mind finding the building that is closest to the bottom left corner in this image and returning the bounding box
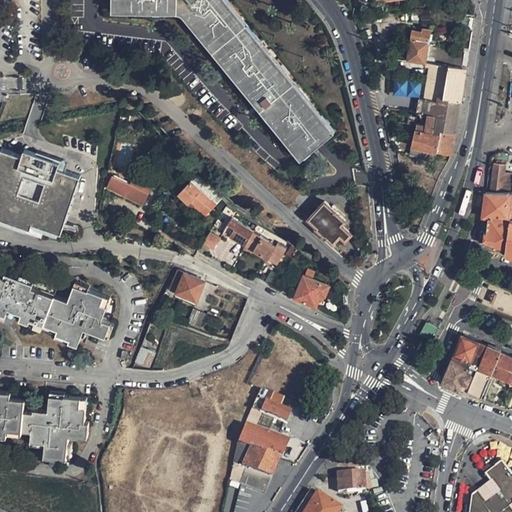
[0,392,92,464]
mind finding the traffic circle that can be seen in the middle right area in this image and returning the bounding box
[370,273,413,345]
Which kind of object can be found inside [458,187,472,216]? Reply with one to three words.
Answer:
vehicle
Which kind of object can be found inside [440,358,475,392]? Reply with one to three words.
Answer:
house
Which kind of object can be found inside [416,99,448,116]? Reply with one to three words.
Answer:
building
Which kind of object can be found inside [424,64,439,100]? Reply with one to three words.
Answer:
shed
